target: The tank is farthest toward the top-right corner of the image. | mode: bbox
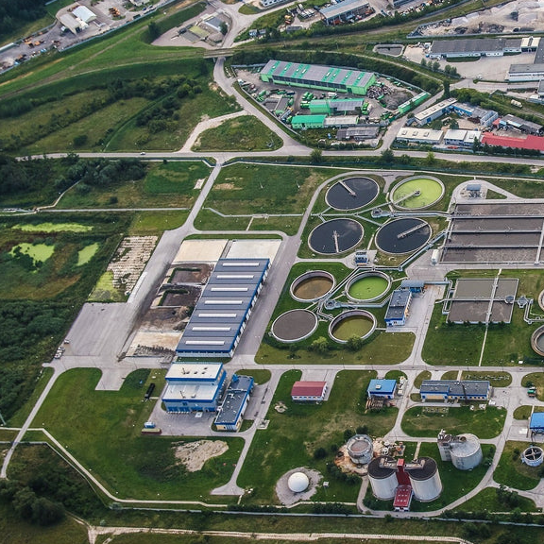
[390,176,446,211]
